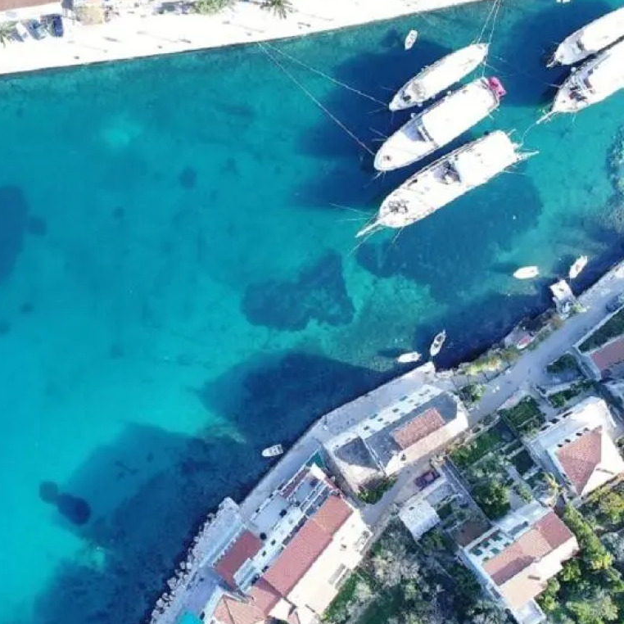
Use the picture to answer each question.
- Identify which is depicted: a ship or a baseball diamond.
ship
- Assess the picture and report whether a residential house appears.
Yes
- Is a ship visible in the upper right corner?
Yes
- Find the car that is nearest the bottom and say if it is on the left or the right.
right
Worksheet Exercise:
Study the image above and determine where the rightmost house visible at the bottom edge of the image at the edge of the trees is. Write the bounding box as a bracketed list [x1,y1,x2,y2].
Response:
[457,497,585,624]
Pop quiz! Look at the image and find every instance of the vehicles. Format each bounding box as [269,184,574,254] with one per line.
[52,12,63,37]
[416,467,439,488]
[13,21,31,43]
[604,291,624,309]
[30,16,47,41]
